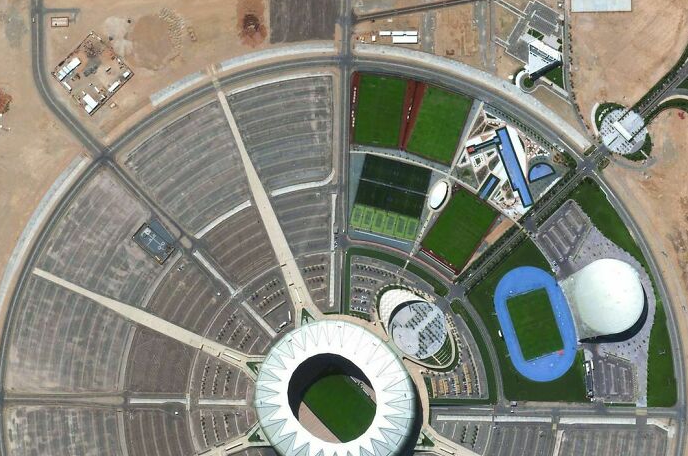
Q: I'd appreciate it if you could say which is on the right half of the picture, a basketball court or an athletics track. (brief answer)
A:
athletics track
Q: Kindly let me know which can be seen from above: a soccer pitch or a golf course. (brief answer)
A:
soccer pitch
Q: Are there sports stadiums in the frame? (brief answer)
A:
Yes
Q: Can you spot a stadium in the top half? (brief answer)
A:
No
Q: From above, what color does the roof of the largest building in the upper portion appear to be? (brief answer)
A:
white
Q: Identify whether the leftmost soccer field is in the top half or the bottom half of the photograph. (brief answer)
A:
bottom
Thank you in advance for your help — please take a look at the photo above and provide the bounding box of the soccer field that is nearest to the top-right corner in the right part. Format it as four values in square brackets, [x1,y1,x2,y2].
[403,80,473,167]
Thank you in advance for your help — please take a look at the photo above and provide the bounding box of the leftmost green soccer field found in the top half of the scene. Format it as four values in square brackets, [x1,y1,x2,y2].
[350,73,415,149]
